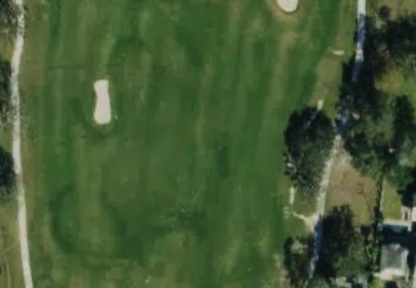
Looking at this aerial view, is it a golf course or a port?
golf course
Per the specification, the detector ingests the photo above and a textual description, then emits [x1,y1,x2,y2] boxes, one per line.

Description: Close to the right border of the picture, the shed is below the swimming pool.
[381,245,408,276]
